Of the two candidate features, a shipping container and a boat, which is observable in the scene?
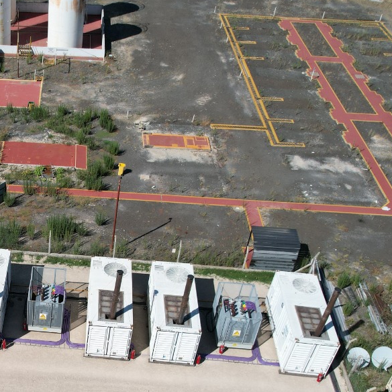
shipping container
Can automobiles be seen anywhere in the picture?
No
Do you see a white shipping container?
Yes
